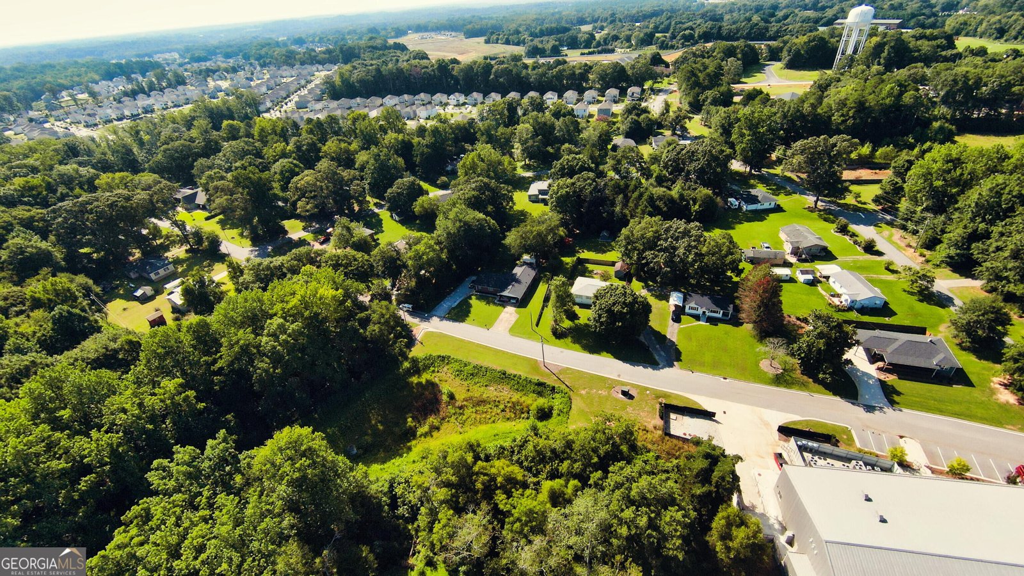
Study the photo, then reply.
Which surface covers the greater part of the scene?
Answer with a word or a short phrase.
trees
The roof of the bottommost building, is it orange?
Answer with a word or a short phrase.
No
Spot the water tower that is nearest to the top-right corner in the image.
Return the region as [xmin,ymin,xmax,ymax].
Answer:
[834,5,877,71]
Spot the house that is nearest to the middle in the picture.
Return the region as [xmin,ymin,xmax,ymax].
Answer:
[474,263,544,306]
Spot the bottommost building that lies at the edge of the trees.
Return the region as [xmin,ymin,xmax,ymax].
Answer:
[776,462,1024,576]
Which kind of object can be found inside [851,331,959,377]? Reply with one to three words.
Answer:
house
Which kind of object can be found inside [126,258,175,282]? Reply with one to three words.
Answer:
house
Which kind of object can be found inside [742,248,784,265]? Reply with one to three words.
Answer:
shed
